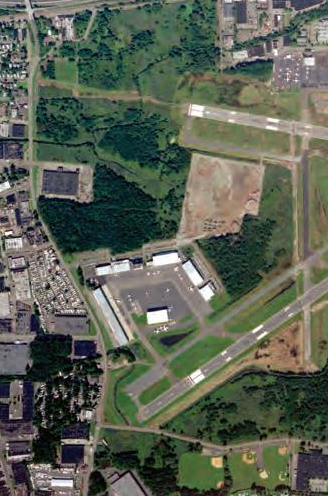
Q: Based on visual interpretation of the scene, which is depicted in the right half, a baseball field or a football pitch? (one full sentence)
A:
The one visible in the right half is a baseball field.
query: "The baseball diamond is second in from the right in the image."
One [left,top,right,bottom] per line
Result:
[231,449,268,492]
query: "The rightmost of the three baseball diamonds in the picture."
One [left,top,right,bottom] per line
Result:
[264,445,289,486]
